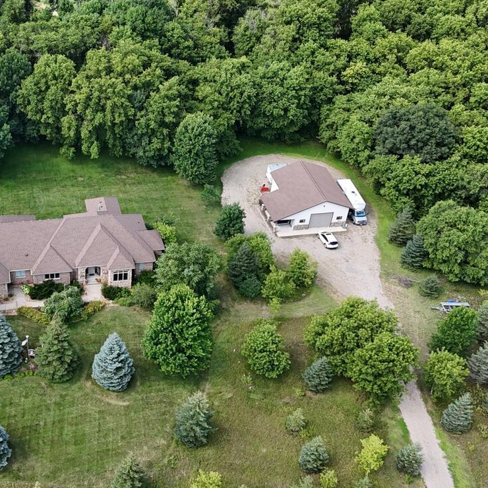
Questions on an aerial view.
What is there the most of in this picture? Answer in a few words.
trees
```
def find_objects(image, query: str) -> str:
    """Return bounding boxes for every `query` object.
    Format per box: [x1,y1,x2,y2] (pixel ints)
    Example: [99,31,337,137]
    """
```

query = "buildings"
[260,160,355,233]
[0,197,165,297]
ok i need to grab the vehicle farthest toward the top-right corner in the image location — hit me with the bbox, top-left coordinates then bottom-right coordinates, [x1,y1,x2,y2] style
[338,178,368,222]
